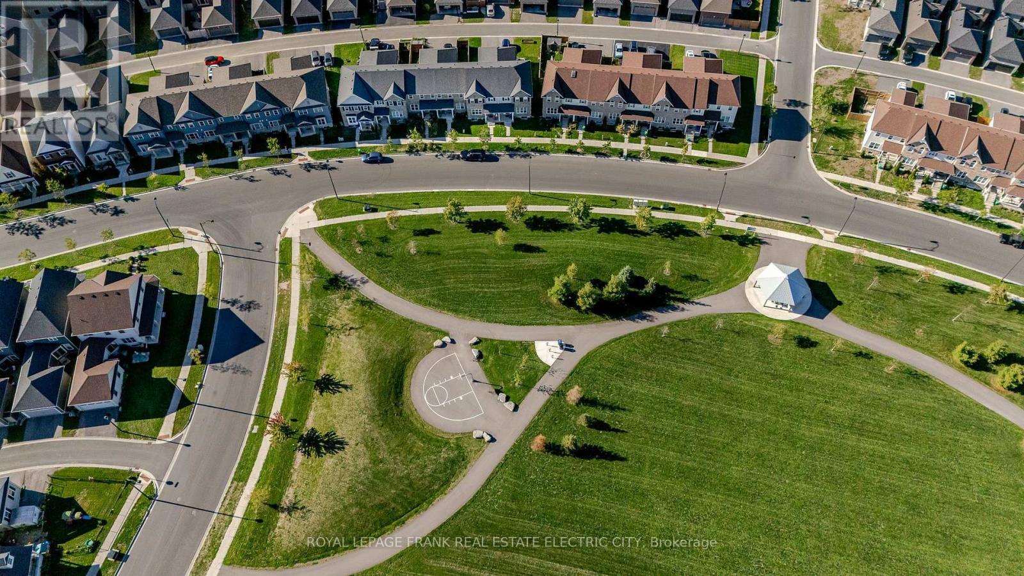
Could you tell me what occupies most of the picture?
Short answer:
grass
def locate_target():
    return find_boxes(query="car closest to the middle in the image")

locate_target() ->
[461,149,485,162]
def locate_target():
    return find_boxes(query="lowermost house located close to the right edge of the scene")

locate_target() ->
[863,92,1024,212]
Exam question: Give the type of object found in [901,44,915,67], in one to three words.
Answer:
vehicle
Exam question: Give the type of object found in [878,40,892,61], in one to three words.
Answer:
car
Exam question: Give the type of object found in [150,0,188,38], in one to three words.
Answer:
building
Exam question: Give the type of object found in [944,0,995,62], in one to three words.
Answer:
house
